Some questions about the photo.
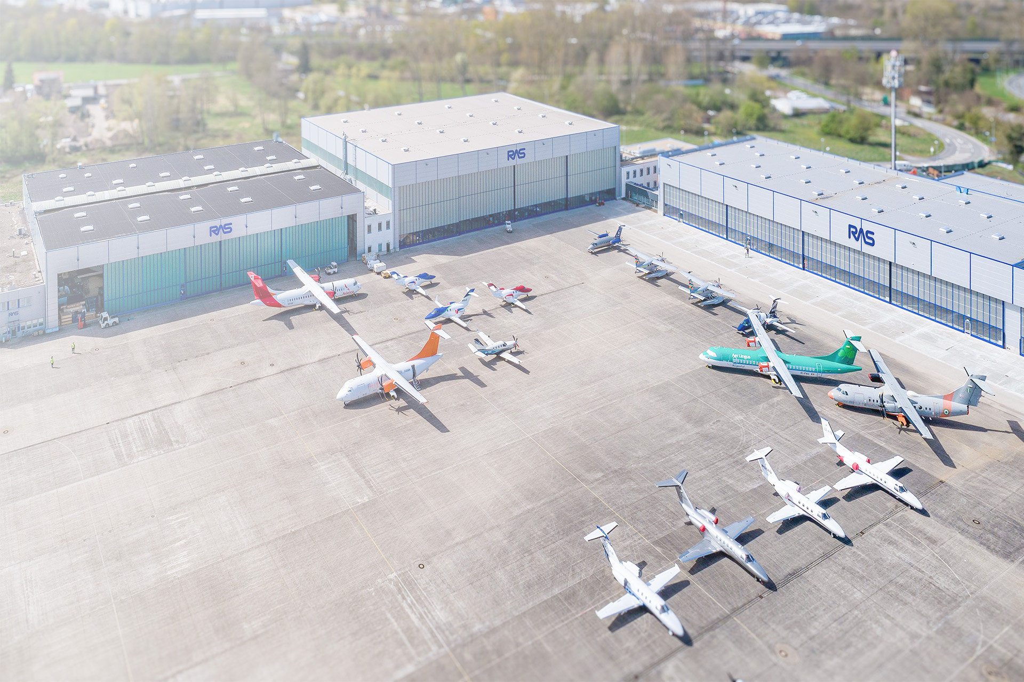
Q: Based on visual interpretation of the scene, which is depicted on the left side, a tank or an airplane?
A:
airplane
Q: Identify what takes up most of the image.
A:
paved ground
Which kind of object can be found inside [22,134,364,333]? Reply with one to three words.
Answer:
hangar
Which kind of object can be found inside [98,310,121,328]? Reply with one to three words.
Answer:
work vehicle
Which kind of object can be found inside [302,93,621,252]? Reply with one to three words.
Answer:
hangar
